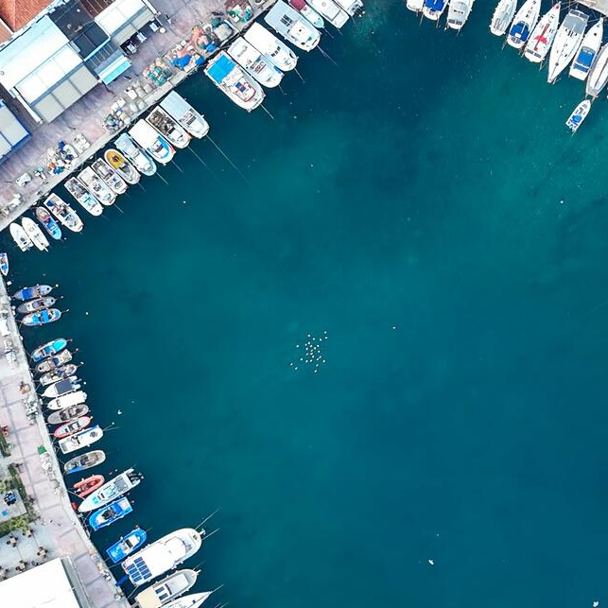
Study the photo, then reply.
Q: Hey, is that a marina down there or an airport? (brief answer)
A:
marina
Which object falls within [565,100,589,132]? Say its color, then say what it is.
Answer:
white boat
